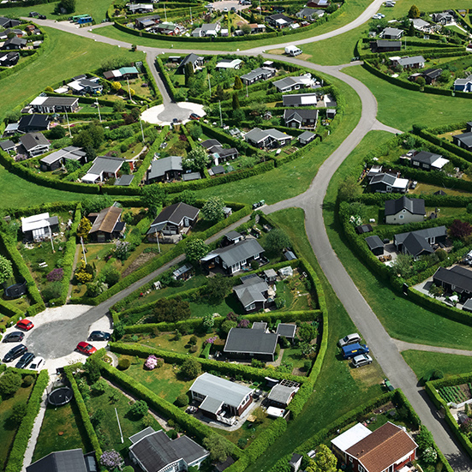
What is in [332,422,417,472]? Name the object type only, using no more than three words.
house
